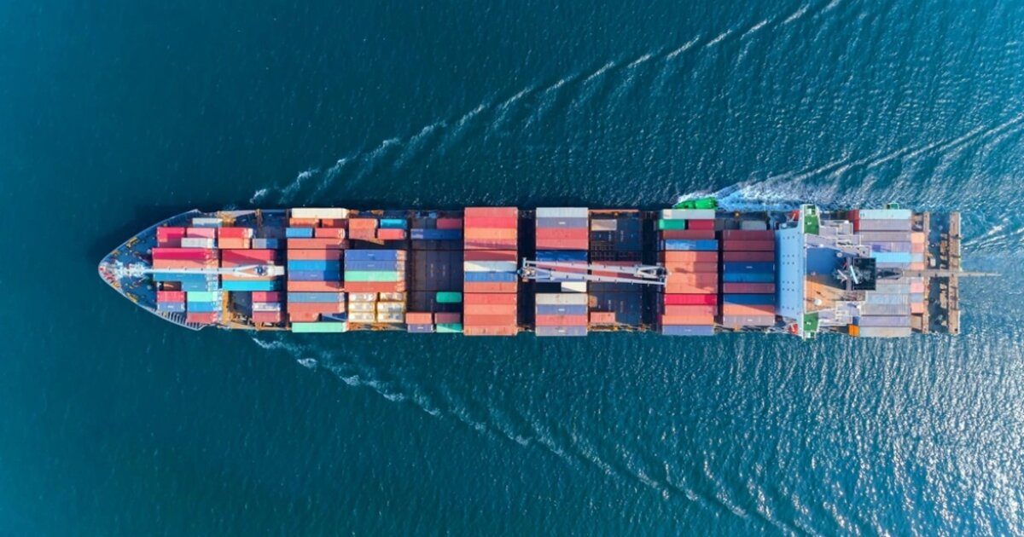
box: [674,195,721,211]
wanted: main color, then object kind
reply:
green boat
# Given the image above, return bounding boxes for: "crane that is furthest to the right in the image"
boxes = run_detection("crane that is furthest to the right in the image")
[875,266,999,281]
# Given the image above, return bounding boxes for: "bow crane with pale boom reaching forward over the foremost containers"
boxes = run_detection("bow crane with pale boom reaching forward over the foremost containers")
[145,262,288,278]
